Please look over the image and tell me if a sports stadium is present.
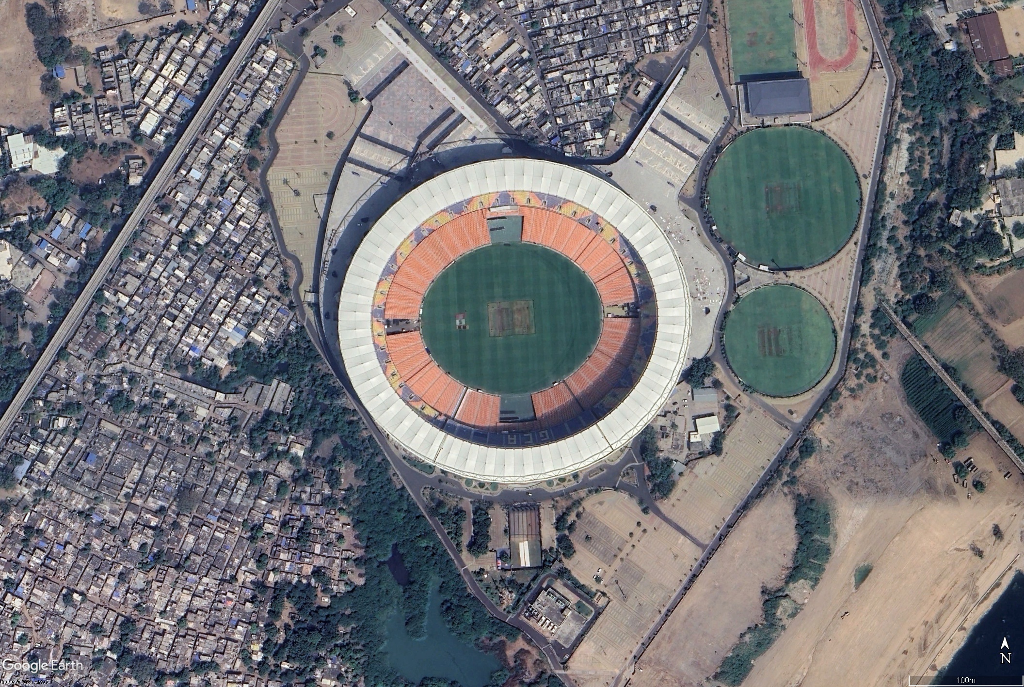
Yes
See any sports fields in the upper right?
Yes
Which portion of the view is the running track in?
top right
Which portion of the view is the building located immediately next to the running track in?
top right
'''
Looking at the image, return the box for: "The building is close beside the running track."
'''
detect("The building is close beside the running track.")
[736,78,812,126]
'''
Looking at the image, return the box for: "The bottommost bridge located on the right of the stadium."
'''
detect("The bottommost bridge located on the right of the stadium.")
[876,294,1024,476]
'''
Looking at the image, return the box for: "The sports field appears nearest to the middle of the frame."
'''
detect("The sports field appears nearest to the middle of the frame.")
[422,242,603,394]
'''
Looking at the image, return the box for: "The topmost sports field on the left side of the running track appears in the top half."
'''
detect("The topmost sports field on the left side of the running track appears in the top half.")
[728,0,801,83]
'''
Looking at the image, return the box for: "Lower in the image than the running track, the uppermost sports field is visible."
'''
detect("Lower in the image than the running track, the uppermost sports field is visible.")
[704,126,863,270]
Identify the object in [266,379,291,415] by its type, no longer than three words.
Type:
shed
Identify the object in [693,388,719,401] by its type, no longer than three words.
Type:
building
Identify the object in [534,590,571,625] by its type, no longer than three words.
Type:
building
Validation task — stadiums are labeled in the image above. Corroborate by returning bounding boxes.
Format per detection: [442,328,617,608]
[339,158,692,485]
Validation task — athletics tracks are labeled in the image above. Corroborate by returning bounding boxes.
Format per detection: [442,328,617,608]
[807,0,858,83]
